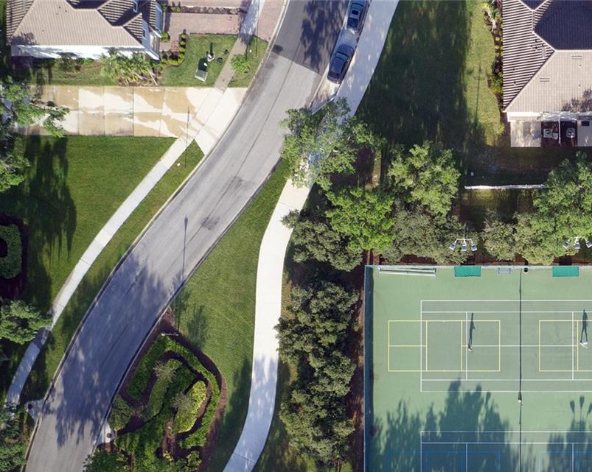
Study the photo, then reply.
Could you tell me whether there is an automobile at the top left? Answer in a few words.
No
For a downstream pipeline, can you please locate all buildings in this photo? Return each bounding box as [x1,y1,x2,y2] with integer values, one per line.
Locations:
[503,0,592,122]
[12,0,168,59]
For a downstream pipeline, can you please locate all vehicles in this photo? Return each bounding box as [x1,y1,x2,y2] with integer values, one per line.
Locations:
[346,0,371,30]
[328,44,354,85]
